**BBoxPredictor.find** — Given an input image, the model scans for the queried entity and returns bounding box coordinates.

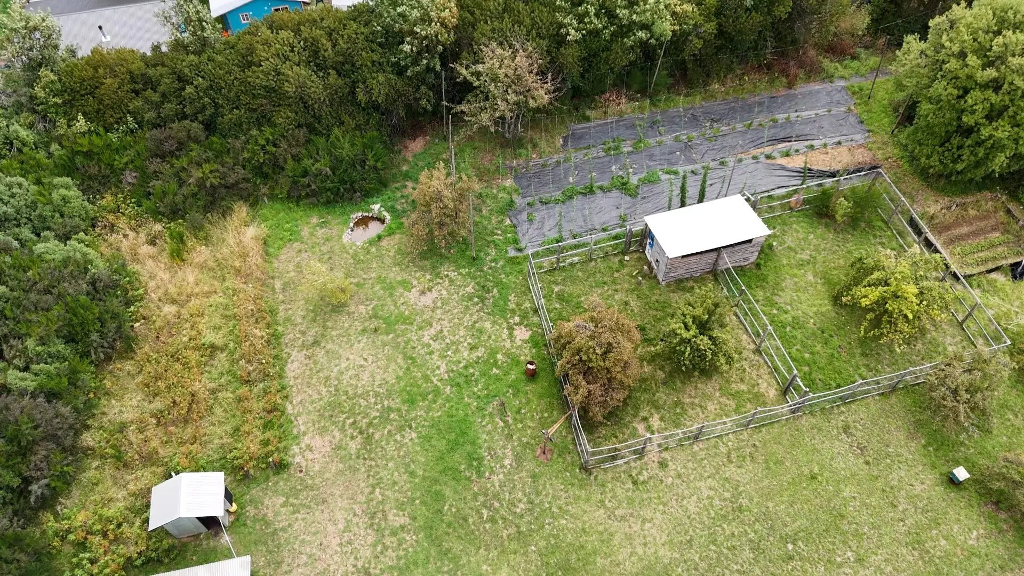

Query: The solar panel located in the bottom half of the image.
[224,484,239,518]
